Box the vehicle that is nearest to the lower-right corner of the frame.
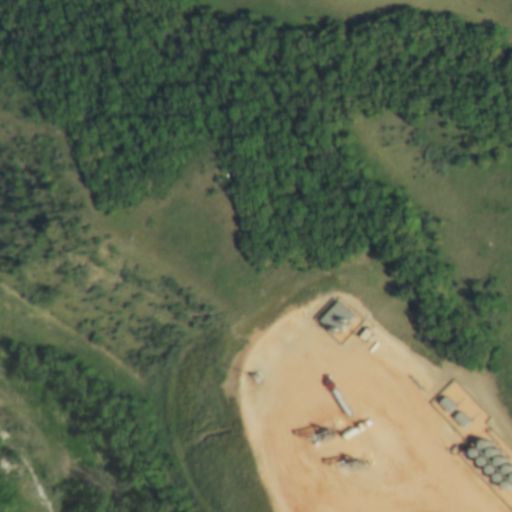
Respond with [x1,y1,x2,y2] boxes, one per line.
[342,418,375,440]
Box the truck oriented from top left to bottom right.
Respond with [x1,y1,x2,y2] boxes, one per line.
[322,372,354,418]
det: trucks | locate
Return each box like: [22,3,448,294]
[322,372,354,418]
[342,418,375,440]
